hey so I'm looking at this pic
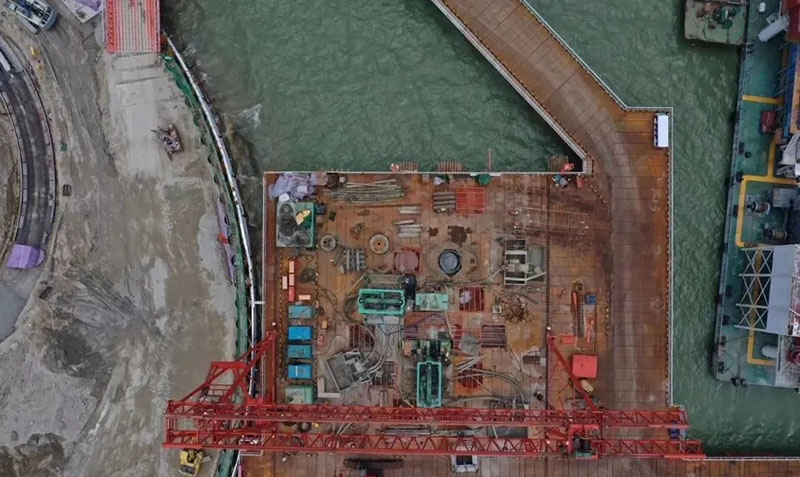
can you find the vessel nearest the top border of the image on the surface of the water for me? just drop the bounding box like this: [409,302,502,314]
[680,0,746,49]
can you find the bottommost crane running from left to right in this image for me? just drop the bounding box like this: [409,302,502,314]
[162,329,708,460]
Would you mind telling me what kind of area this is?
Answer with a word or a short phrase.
port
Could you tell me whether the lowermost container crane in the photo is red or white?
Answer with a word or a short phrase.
red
